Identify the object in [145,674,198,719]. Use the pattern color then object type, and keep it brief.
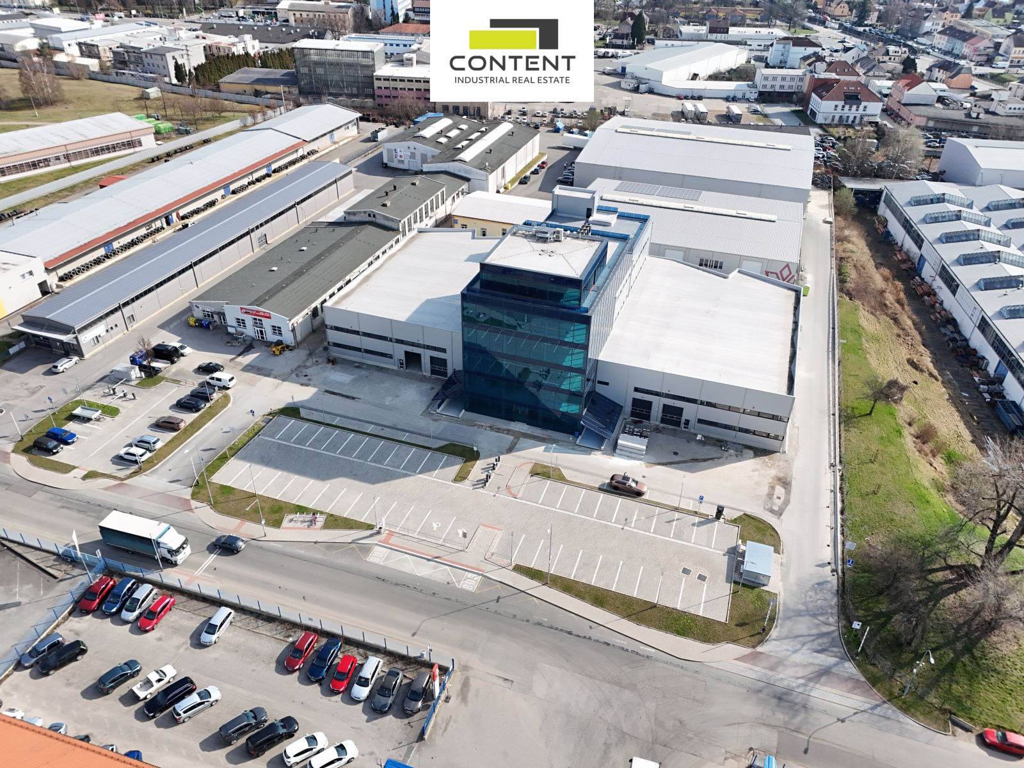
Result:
black car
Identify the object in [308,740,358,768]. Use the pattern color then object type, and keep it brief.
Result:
white car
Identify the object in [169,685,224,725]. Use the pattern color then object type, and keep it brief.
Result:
white car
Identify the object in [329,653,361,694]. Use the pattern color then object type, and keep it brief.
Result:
red car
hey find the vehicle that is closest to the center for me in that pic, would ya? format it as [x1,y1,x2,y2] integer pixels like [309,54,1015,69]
[609,473,646,498]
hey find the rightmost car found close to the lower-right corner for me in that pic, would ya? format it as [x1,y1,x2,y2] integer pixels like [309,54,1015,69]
[978,724,1024,766]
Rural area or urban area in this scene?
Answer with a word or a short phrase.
urban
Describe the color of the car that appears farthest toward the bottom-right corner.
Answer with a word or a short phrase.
red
